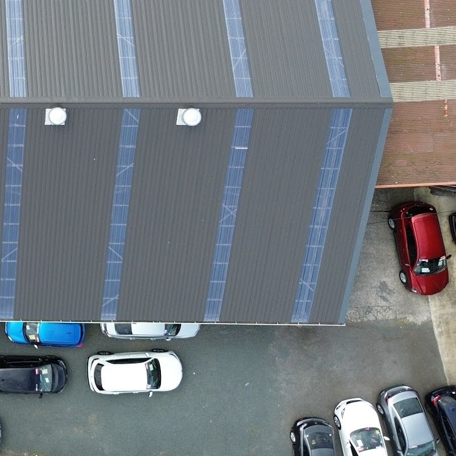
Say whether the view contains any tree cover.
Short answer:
No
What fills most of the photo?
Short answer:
buildings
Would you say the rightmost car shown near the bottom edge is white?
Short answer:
No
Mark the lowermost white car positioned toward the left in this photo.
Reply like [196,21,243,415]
[86,348,181,398]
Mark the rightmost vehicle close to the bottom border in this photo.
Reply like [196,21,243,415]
[426,382,456,456]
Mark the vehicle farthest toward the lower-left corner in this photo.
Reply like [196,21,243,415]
[0,353,66,400]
